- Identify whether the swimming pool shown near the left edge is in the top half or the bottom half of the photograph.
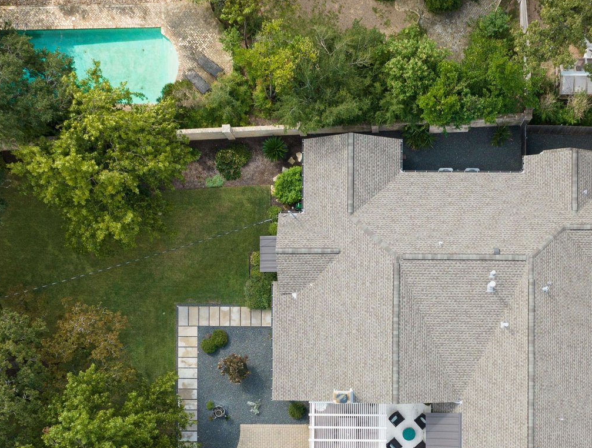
top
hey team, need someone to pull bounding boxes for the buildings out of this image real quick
[259,134,592,448]
[552,66,592,95]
